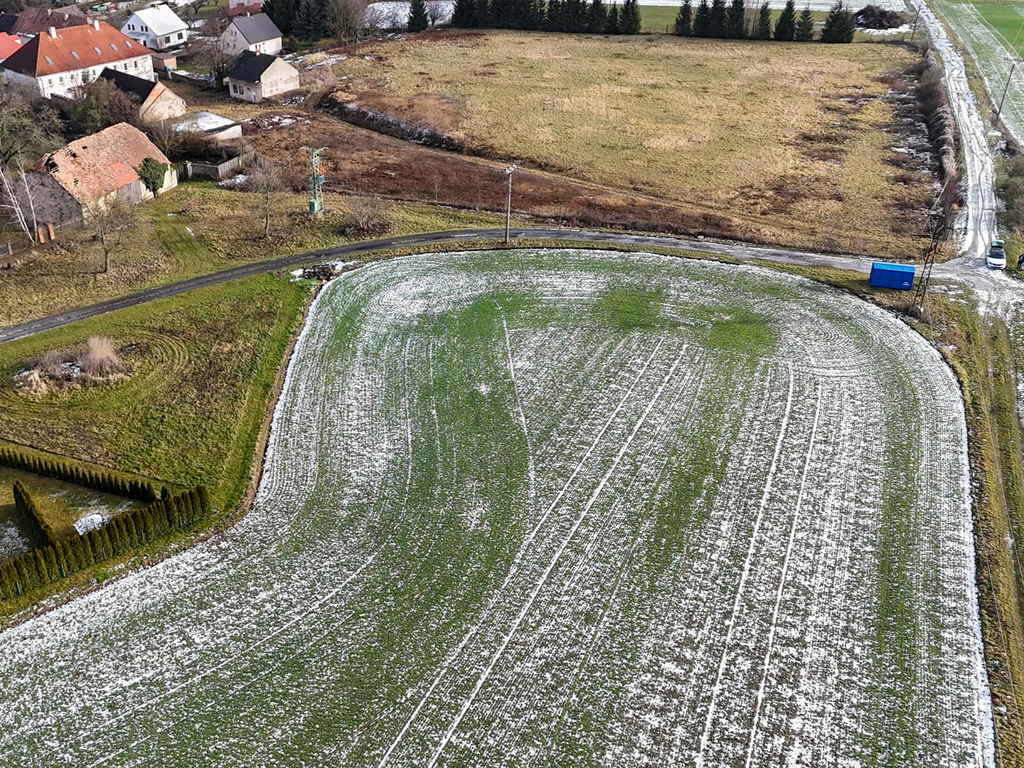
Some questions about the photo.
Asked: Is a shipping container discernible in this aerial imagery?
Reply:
Yes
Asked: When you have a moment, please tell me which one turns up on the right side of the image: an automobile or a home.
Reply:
automobile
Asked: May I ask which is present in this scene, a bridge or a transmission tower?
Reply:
transmission tower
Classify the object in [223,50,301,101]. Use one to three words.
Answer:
house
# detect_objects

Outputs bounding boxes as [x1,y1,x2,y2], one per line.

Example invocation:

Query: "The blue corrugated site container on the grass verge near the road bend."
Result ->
[866,261,920,290]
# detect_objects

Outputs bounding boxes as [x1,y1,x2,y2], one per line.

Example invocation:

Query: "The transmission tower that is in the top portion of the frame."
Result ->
[909,202,969,312]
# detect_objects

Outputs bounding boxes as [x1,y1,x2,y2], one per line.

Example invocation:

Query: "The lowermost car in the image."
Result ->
[983,233,1012,266]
